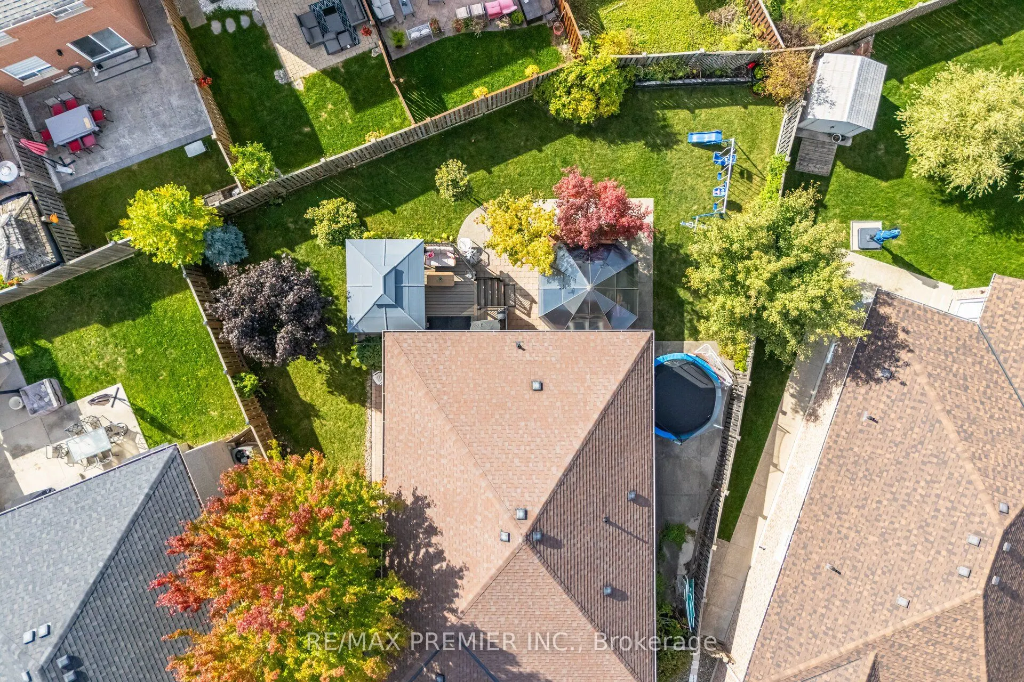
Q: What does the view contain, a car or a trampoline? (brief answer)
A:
trampoline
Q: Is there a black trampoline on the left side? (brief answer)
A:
No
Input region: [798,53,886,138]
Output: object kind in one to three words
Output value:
shed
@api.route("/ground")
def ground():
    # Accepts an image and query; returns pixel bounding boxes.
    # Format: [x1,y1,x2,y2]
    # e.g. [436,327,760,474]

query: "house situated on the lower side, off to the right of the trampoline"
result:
[719,275,1024,682]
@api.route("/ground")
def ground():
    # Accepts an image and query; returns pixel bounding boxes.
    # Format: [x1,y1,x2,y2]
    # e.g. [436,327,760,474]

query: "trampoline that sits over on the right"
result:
[656,354,727,448]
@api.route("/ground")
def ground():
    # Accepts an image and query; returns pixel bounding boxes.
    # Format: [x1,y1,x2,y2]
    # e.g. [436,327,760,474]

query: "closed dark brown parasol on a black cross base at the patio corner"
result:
[84,387,121,408]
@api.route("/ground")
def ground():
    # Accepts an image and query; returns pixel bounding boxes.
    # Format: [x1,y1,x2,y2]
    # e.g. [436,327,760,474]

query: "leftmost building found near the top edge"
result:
[0,0,156,96]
